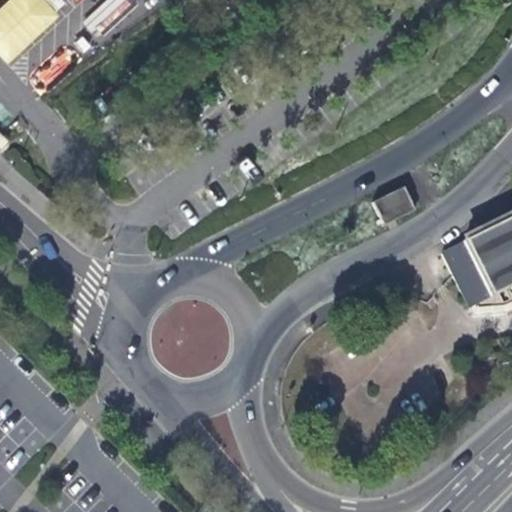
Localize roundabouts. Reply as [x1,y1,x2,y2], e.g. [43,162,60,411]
[96,251,264,500]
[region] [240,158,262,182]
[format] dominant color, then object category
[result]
white vehicle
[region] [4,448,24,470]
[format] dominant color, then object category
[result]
white car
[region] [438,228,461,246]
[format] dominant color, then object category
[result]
white car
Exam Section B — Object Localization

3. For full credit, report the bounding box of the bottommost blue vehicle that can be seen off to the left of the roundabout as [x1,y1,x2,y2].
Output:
[38,236,58,260]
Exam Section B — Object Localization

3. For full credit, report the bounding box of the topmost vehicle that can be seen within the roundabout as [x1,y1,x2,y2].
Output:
[156,267,176,288]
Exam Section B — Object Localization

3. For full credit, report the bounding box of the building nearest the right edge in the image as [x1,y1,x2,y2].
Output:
[442,208,512,307]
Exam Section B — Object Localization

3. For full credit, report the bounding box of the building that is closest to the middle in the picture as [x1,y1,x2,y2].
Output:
[372,186,416,228]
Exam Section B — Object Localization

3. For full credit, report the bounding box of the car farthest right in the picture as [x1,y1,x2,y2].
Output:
[478,79,500,98]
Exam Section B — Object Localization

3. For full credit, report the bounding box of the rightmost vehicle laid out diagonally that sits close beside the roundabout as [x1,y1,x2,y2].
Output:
[206,238,228,256]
